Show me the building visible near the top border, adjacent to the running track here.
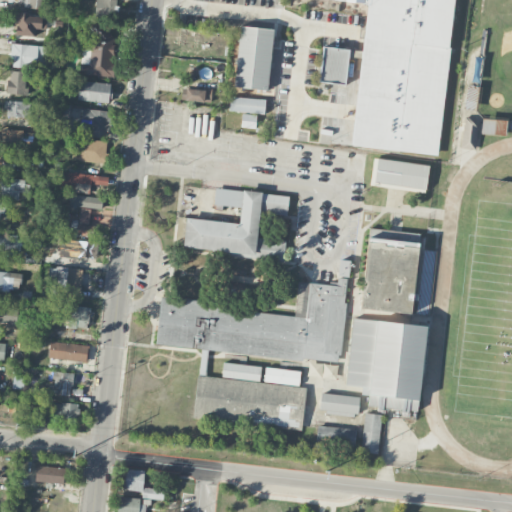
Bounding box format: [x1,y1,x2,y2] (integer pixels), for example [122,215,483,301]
[352,0,457,156]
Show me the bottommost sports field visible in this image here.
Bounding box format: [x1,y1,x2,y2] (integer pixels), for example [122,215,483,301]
[453,200,512,418]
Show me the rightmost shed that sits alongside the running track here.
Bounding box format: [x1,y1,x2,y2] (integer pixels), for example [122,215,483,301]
[483,119,509,136]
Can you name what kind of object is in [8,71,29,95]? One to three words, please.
house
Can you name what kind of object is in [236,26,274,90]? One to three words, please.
building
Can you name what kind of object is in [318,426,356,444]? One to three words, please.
shed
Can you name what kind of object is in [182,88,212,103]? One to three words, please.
house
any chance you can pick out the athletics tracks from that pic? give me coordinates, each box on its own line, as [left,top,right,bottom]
[426,138,512,477]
